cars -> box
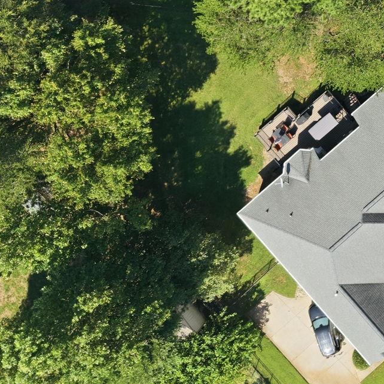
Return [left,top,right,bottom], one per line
[305,304,339,360]
[251,292,368,384]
